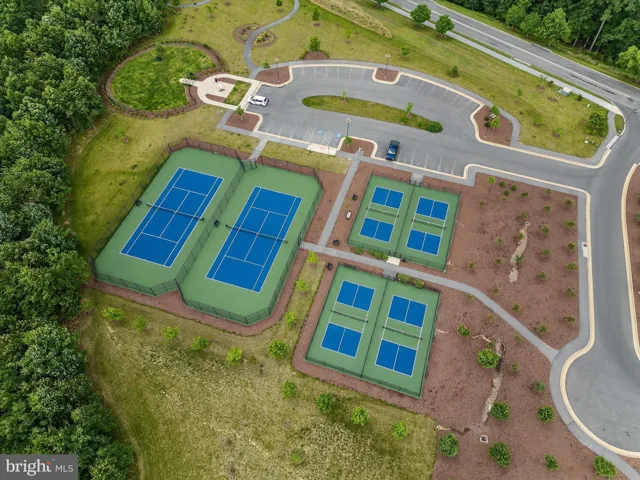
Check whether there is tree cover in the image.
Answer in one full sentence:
Yes, tree cover can be seen from above here.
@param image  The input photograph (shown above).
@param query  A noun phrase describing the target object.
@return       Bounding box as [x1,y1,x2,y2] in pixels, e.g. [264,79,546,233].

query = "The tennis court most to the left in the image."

[94,148,245,298]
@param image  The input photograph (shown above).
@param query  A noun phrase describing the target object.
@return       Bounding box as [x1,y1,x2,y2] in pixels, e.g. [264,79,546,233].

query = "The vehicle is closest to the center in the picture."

[387,139,401,160]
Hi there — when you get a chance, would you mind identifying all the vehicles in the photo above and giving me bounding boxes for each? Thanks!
[248,96,268,107]
[387,139,401,160]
